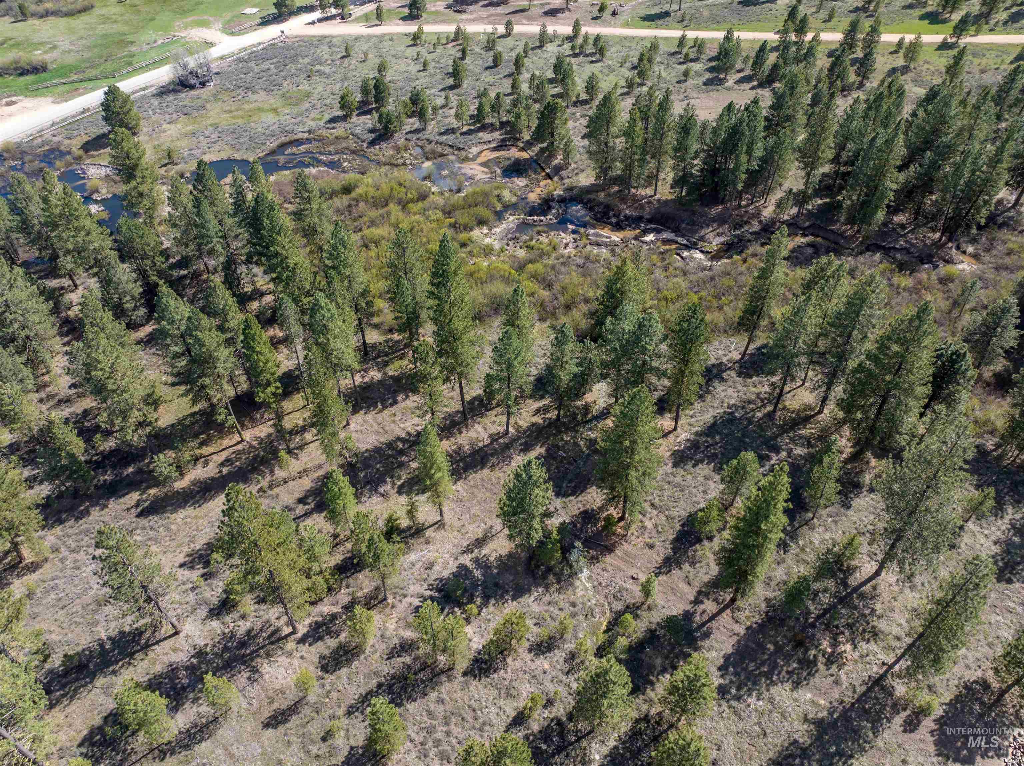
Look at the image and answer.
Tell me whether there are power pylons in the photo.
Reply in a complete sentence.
No, this view has no power pylon in it.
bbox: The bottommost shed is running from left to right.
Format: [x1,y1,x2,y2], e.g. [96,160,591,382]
[163,63,230,88]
